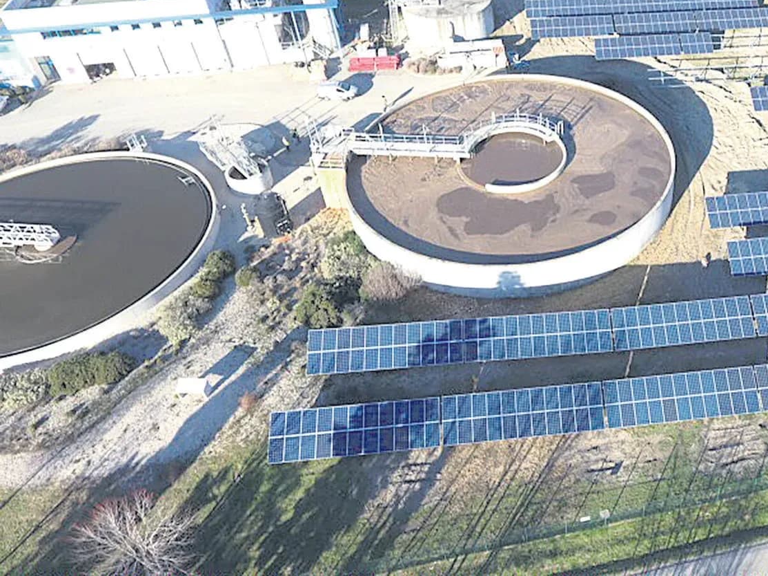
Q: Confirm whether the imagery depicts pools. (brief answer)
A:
No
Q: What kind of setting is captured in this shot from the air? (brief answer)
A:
industrial area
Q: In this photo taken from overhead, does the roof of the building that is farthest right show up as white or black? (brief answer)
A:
white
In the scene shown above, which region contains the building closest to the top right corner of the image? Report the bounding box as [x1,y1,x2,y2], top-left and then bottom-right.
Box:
[440,27,511,68]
